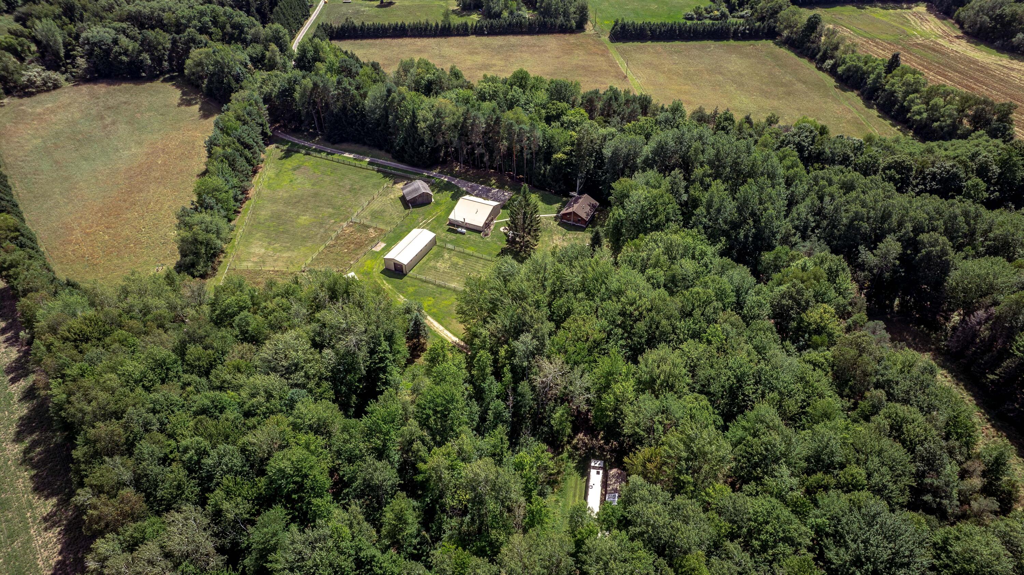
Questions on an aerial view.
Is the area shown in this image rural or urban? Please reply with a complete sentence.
It looks rural.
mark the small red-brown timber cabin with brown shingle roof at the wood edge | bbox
[560,194,599,227]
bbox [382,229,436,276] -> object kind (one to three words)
shed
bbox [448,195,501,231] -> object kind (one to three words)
building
